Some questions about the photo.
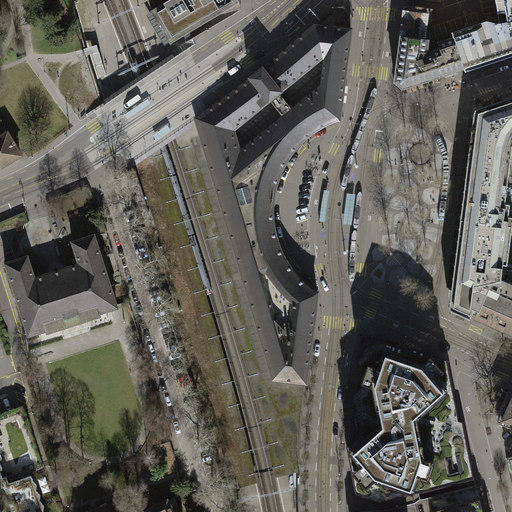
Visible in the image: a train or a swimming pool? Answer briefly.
train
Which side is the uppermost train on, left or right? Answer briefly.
right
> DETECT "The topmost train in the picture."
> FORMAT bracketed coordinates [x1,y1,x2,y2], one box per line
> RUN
[351,88,376,154]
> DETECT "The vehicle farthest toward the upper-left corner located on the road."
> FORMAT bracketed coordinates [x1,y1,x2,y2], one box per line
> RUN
[123,95,140,108]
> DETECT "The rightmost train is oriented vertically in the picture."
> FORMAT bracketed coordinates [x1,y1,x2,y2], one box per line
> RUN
[435,135,448,222]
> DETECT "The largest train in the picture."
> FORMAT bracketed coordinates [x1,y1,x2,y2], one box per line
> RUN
[164,144,212,294]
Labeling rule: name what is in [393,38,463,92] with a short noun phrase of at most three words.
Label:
building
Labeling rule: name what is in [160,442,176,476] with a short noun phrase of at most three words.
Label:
shed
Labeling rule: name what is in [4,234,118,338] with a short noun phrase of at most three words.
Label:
building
